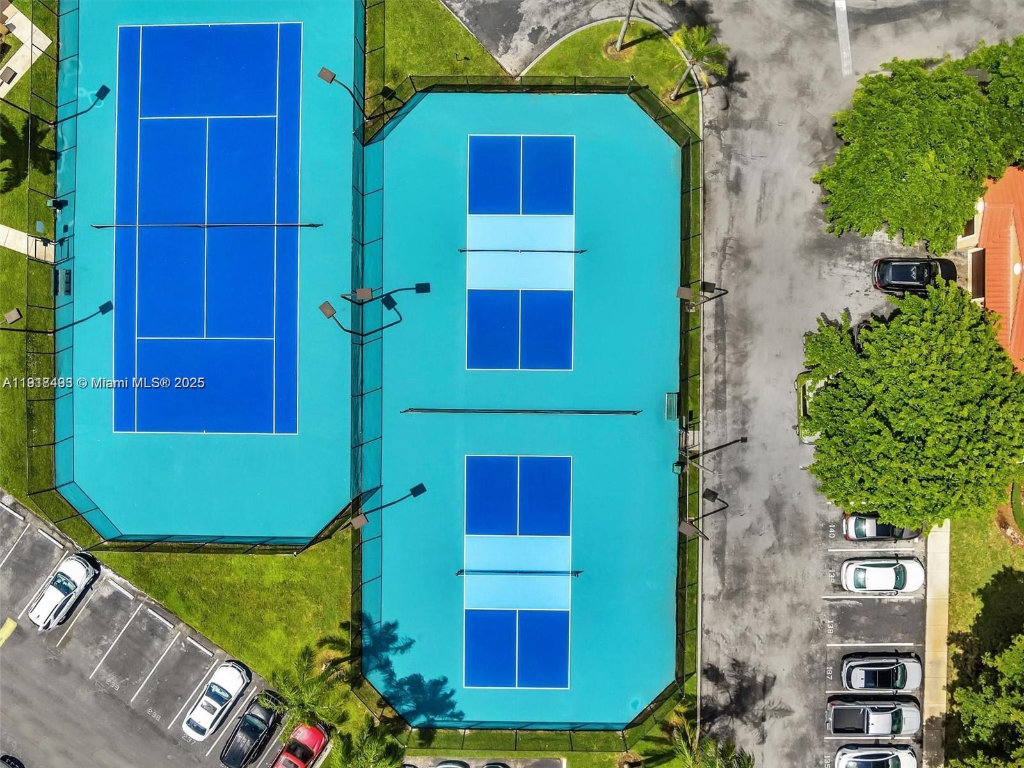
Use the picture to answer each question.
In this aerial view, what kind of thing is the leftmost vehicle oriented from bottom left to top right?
car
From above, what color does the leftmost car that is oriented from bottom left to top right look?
white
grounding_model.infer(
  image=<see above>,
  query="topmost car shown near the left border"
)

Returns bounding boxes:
[24,553,98,633]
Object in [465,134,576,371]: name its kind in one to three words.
sports court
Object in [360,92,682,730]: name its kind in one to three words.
sports court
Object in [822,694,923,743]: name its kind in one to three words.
truck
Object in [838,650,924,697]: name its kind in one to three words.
car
